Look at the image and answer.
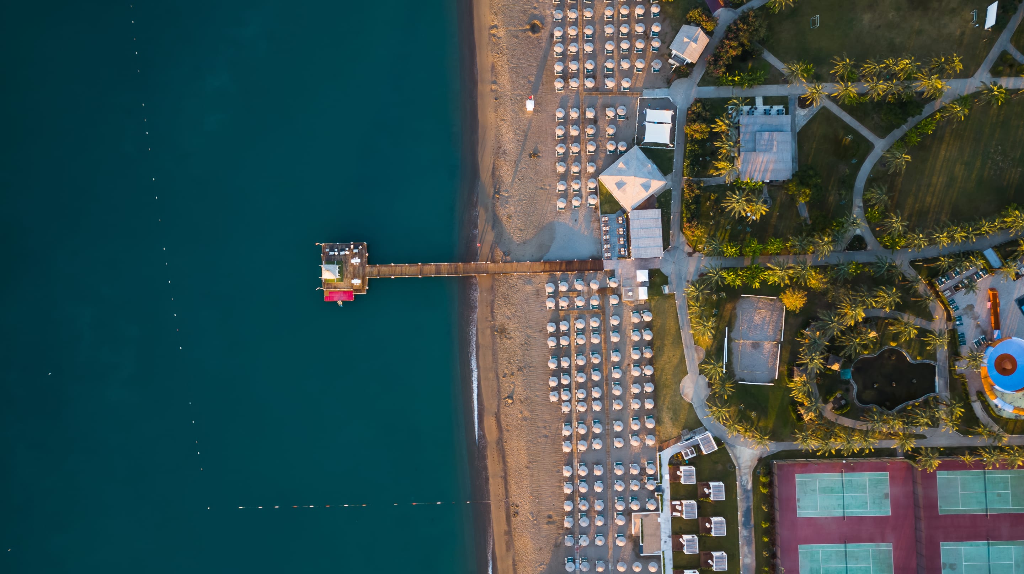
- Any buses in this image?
No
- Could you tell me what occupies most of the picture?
water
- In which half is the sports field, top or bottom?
top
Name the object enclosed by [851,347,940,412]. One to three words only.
pond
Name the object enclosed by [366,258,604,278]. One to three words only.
pier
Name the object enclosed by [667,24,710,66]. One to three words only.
shed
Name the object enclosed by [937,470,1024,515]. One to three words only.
tennis court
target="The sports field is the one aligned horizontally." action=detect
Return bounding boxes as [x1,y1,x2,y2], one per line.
[751,0,1005,83]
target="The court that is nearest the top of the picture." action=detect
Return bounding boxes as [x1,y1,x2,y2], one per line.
[731,297,785,383]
